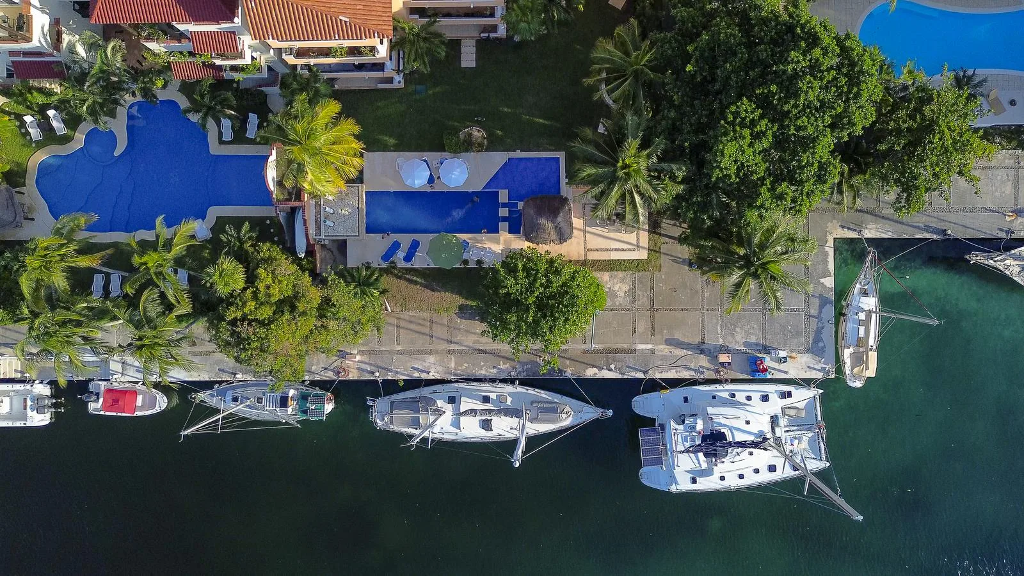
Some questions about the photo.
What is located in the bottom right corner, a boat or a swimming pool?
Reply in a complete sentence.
There is a boat in the bottom right corner.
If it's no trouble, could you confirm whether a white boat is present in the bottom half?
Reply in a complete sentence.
Yes, the scene does show a white boat in the bottom half.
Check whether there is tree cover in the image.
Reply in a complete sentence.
Yes, tree cover can be seen from above here.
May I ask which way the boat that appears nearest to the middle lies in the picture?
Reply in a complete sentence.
The boat that appears nearest to the middle has been laid out from side to side relative to the frame.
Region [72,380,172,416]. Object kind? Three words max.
boat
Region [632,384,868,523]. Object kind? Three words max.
boat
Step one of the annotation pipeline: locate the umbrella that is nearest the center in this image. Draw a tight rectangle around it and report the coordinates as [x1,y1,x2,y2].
[428,232,466,270]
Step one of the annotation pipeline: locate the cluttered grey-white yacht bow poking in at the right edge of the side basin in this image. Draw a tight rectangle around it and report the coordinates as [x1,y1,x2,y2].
[961,246,1024,287]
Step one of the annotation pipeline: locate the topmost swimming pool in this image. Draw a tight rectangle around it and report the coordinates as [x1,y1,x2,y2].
[854,0,1024,84]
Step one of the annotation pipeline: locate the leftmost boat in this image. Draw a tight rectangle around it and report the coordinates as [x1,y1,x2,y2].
[0,383,63,427]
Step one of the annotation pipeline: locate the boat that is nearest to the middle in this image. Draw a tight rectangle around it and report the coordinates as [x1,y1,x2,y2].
[367,383,612,469]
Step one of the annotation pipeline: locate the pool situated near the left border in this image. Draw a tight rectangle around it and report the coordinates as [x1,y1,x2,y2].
[26,91,280,240]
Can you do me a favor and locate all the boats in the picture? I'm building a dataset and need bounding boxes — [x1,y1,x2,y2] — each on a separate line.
[367,383,612,469]
[961,246,1024,287]
[171,380,334,438]
[72,380,172,416]
[839,247,941,387]
[632,384,868,523]
[0,383,63,427]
